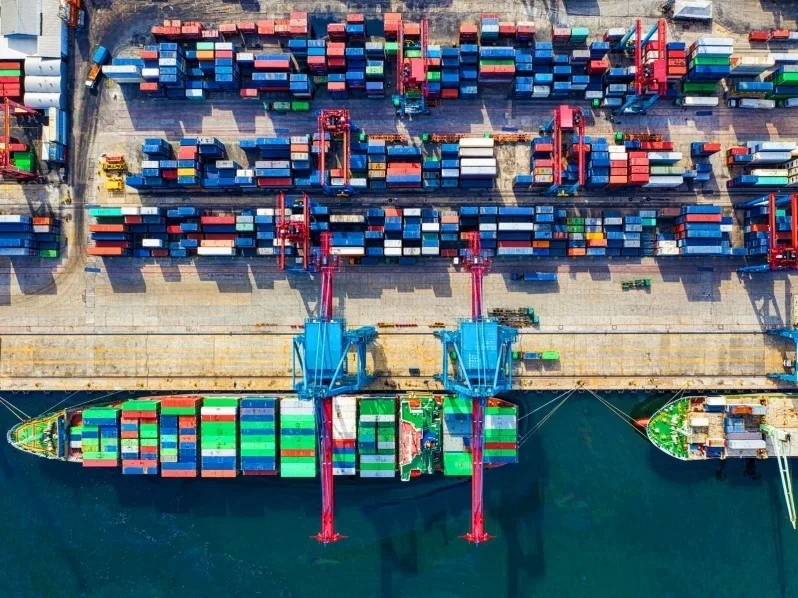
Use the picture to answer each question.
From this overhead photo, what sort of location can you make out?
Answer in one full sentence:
This looks like a port.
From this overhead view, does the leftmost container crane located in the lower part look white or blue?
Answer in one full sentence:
From above, the leftmost container crane located in the lower part appears blue.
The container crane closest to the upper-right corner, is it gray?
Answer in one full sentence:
No, the container crane closest to the upper-right corner is red.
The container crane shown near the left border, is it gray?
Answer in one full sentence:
No, the color of the container crane shown near the left border is red.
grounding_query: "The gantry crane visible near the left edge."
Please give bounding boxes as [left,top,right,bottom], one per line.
[0,98,48,180]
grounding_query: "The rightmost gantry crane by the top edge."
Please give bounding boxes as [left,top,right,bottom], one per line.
[610,18,668,113]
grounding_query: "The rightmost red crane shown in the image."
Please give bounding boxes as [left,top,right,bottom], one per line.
[735,193,798,275]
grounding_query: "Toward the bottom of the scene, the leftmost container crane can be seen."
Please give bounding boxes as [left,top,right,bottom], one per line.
[286,235,383,542]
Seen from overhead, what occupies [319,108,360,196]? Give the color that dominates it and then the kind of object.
red container crane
